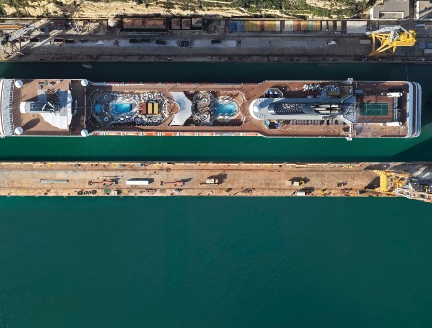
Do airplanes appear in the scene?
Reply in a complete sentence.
No, no airplane is visible in the scene.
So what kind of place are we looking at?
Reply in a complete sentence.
It's a port.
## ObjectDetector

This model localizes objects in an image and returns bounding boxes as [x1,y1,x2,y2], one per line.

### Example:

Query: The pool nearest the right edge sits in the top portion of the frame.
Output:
[215,100,237,117]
